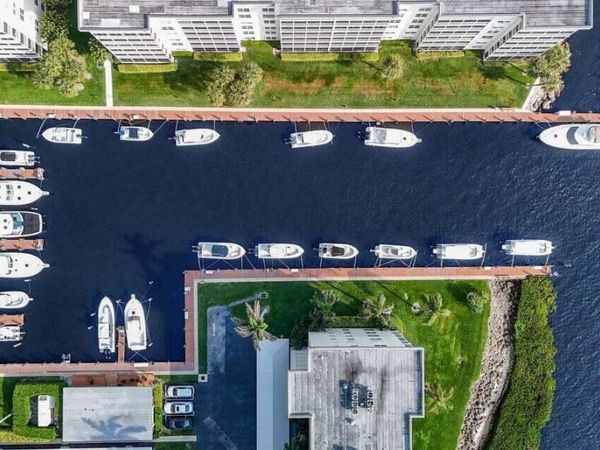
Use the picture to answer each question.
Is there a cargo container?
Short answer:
No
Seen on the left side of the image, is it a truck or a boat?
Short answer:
boat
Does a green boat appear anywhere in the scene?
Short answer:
No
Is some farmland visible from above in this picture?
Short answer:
No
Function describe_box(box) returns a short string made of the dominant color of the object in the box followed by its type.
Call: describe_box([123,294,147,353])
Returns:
white boat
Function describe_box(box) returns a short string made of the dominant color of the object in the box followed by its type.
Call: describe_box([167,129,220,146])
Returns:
white boat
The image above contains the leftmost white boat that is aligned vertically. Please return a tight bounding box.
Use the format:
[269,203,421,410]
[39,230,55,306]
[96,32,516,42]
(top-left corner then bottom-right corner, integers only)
[98,296,115,361]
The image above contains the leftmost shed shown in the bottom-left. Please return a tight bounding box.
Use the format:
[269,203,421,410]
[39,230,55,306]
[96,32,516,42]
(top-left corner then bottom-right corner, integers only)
[38,395,56,427]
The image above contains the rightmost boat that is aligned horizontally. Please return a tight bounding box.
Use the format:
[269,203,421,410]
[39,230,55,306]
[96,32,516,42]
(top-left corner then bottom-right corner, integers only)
[538,123,600,151]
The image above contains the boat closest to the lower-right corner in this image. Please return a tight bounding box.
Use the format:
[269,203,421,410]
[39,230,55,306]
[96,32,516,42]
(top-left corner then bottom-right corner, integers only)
[496,240,555,255]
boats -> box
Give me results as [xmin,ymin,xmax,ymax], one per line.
[189,242,246,260]
[356,128,423,148]
[282,131,333,148]
[98,296,115,361]
[496,240,555,255]
[248,243,304,259]
[0,290,33,309]
[538,123,600,151]
[0,151,45,166]
[0,210,49,237]
[42,127,91,144]
[0,180,49,206]
[167,129,220,146]
[429,243,483,258]
[0,253,50,278]
[369,244,417,259]
[111,126,155,141]
[309,243,359,258]
[0,326,31,340]
[123,294,147,353]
